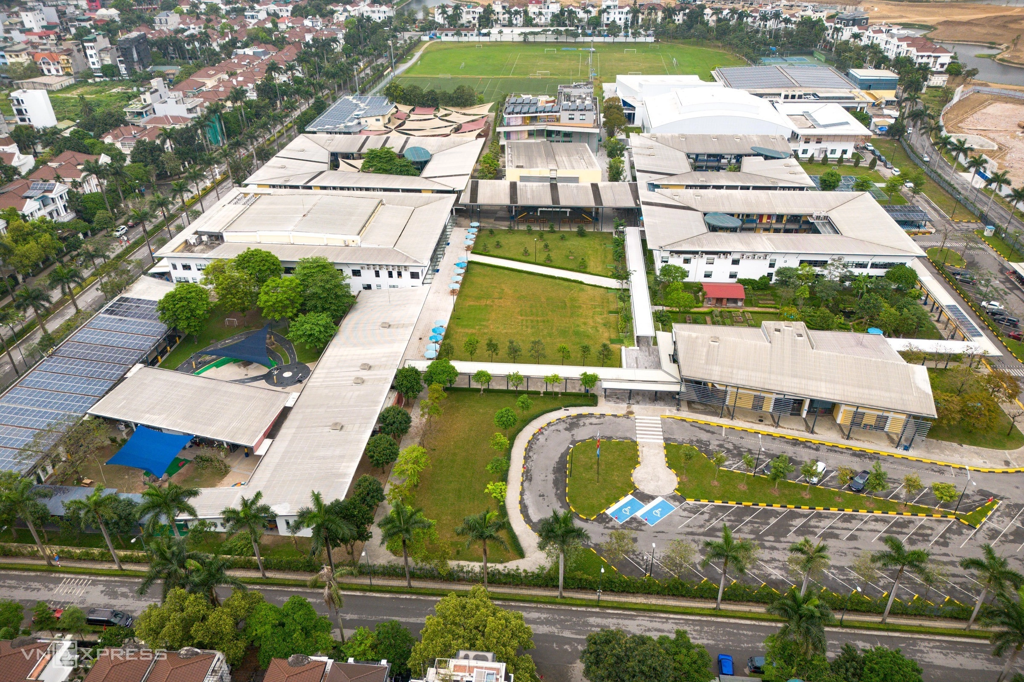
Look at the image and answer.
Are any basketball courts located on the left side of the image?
No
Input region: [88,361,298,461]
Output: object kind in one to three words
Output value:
building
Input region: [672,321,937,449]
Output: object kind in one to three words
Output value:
building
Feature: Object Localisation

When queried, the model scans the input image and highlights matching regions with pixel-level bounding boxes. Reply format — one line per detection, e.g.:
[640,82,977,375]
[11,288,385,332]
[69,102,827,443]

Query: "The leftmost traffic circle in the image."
[260,360,313,388]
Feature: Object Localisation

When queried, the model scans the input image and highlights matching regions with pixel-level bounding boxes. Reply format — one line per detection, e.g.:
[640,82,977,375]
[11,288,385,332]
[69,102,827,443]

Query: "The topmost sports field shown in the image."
[396,42,759,82]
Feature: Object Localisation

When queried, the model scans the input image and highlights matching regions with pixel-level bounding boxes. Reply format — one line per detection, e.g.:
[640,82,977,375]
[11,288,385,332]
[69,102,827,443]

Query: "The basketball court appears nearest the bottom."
[809,175,889,199]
